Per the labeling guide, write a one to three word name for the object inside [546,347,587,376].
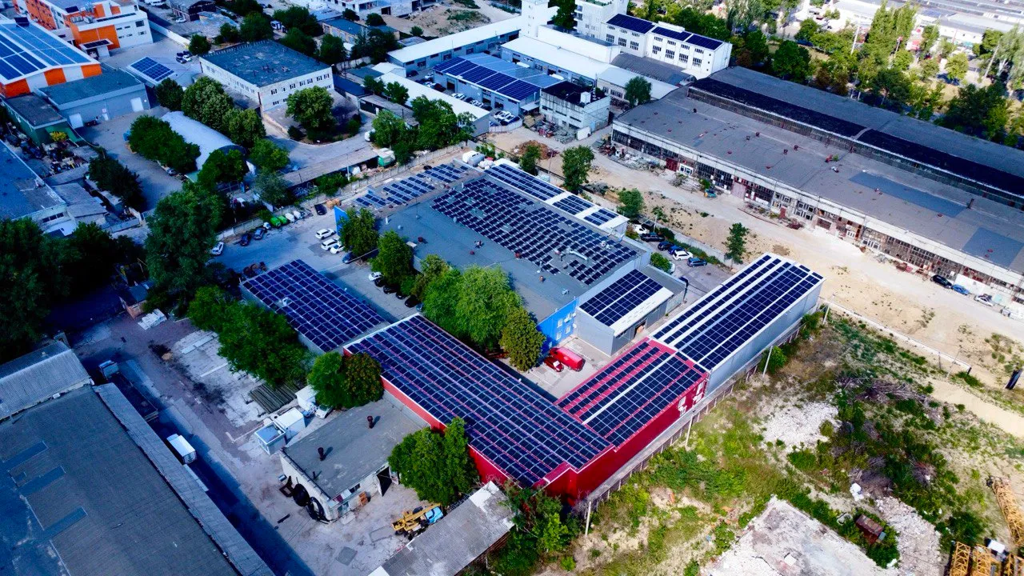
van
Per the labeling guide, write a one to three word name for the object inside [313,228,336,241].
vehicle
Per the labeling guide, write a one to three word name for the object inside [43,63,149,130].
building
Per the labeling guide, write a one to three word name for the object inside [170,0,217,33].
shed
